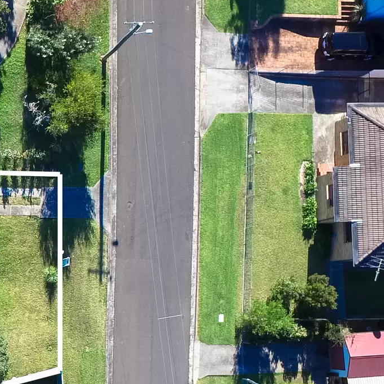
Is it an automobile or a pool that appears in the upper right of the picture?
automobile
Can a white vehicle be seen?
No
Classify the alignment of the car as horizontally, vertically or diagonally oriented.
horizontally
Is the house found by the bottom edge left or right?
right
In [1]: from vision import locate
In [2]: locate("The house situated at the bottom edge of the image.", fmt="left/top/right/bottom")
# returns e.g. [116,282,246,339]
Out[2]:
[317,331,384,379]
